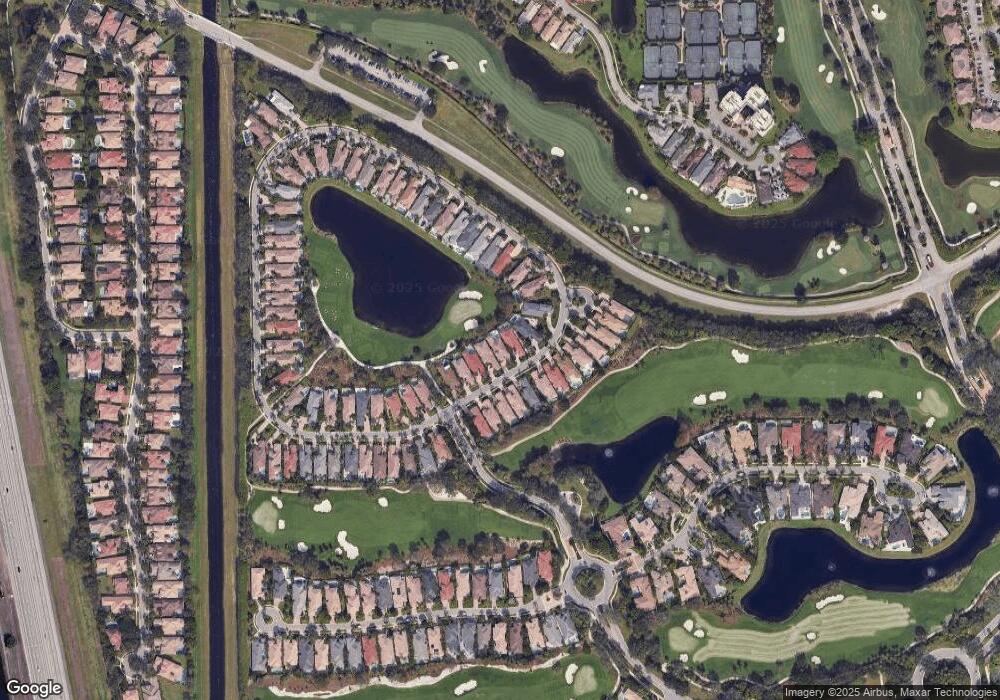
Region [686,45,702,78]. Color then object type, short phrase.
gray tennis court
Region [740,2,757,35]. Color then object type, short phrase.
gray tennis court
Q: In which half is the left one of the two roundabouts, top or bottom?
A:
bottom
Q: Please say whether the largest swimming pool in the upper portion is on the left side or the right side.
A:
right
